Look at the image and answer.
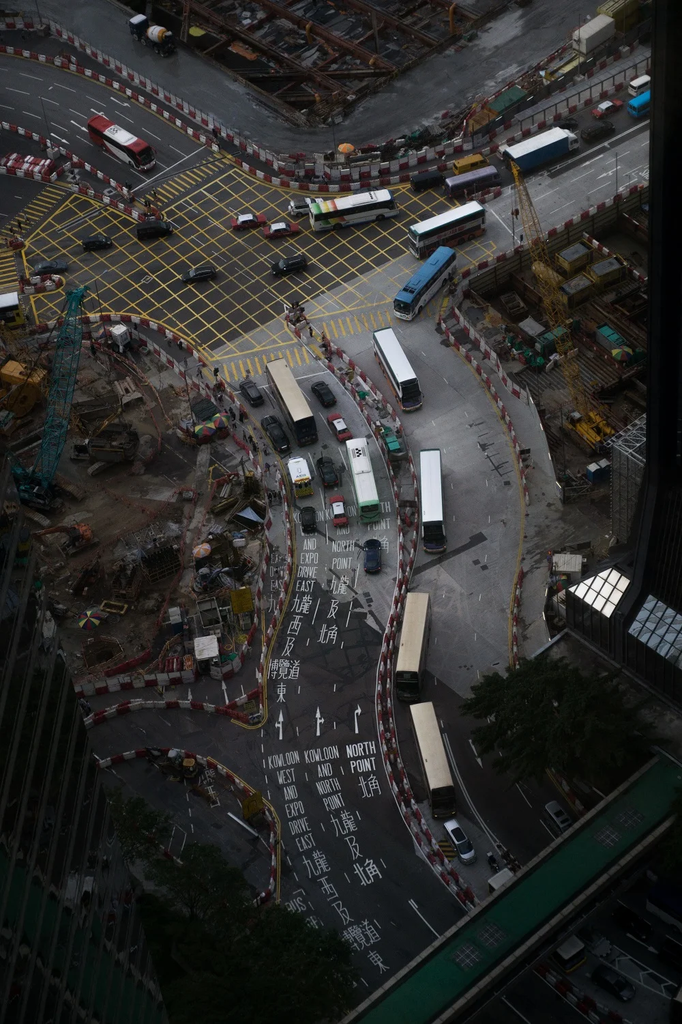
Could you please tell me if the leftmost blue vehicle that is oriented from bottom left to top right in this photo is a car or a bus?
bus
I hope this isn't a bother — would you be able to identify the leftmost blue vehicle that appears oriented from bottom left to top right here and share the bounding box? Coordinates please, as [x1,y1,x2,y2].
[392,247,457,317]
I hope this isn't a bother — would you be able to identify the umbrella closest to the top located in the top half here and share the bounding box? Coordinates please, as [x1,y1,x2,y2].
[338,143,355,159]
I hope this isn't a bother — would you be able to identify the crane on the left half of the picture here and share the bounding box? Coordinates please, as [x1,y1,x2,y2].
[10,286,121,516]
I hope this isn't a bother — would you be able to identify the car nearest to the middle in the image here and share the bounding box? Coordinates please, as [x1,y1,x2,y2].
[328,497,347,526]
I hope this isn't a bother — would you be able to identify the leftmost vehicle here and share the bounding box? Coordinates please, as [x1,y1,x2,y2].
[0,289,31,327]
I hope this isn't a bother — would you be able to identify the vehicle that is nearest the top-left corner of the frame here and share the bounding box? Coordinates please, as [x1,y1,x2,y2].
[130,14,177,55]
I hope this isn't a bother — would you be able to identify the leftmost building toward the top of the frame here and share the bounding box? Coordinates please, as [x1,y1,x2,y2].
[109,324,130,349]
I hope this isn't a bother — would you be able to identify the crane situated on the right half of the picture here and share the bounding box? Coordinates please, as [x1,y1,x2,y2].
[508,160,632,460]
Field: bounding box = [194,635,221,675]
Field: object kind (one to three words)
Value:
building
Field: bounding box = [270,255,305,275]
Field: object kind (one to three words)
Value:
car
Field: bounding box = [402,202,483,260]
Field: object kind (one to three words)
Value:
bus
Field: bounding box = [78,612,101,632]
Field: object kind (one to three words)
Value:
umbrella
